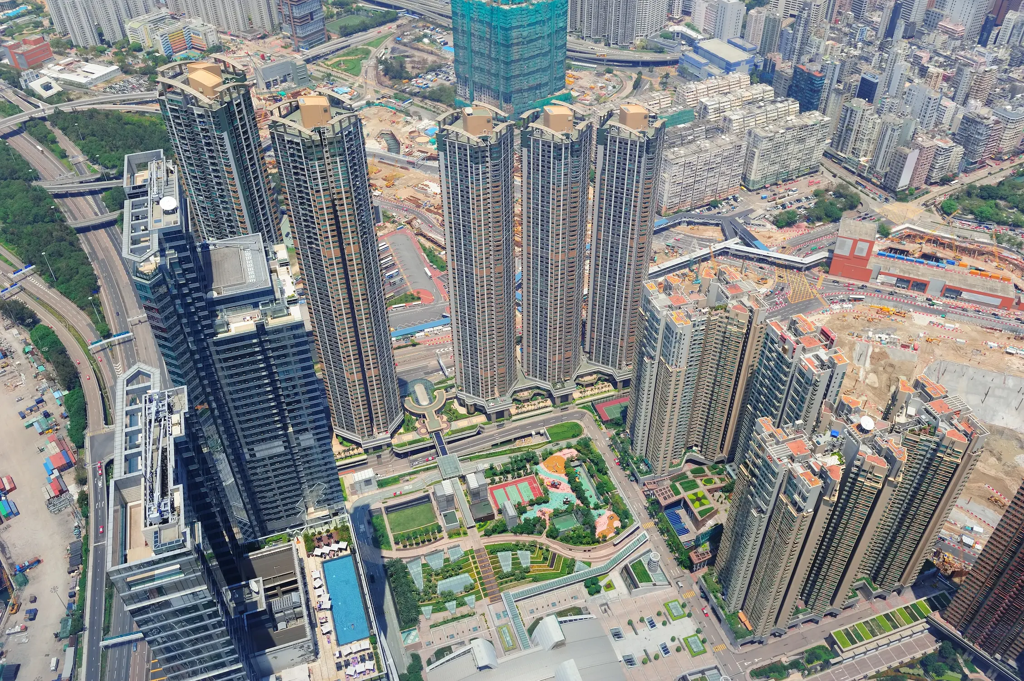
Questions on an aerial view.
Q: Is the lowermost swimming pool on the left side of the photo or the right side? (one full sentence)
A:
The lowermost swimming pool is on the left side of the image.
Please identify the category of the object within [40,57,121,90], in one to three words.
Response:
shed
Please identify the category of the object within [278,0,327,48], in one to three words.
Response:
building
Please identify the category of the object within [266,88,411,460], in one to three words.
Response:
building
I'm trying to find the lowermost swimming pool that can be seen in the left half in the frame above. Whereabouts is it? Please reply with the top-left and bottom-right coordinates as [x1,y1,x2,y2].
[323,556,369,645]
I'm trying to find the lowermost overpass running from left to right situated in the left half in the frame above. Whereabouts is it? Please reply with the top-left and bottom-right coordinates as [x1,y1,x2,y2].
[62,206,135,233]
